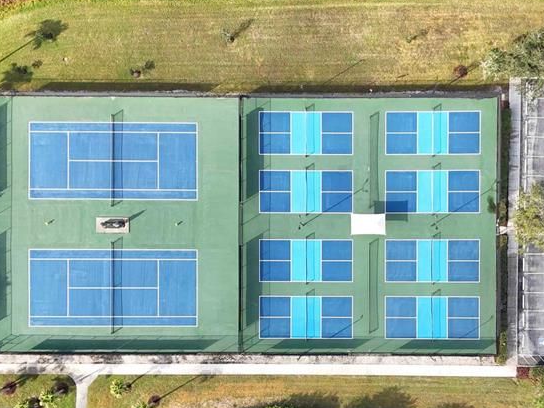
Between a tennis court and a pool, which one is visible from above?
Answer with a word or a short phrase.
tennis court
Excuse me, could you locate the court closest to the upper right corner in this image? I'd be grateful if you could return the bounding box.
[386,107,480,158]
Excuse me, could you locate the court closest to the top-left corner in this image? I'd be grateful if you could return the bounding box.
[28,114,197,207]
